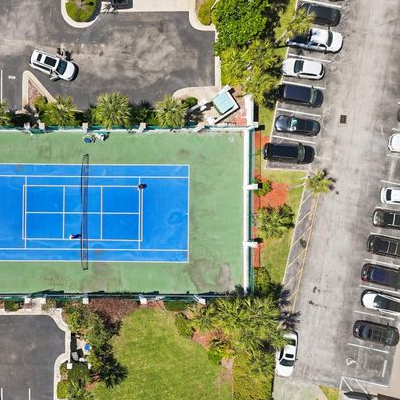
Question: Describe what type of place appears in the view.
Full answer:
What you see here is a sports ground.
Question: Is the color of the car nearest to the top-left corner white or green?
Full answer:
The car nearest to the top-left corner looks white in the image.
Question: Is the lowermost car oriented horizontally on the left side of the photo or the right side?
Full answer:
The lowermost car oriented horizontally is on the right side of the image.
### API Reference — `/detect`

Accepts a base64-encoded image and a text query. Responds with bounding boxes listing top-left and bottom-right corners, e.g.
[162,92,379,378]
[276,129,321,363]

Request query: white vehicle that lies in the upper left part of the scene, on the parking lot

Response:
[30,50,76,85]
